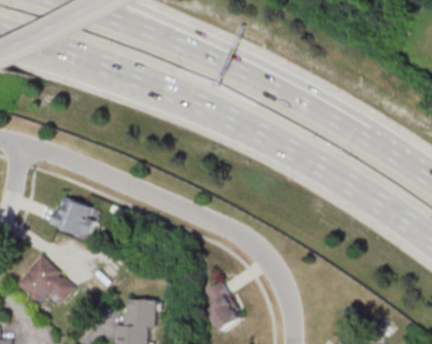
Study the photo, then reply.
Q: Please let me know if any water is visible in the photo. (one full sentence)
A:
No, no water is visible.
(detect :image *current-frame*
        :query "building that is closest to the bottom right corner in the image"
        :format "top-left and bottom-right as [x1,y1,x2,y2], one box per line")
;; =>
[204,282,244,328]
